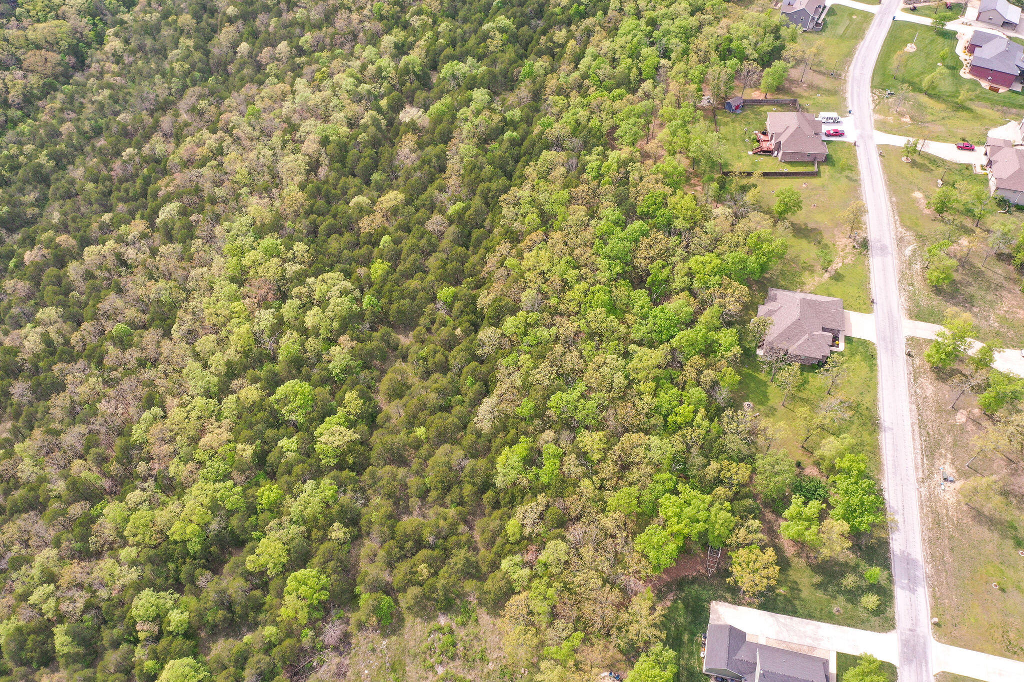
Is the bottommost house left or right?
right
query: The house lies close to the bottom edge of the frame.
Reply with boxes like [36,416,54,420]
[700,624,830,682]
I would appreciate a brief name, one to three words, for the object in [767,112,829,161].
house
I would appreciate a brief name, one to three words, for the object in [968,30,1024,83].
house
